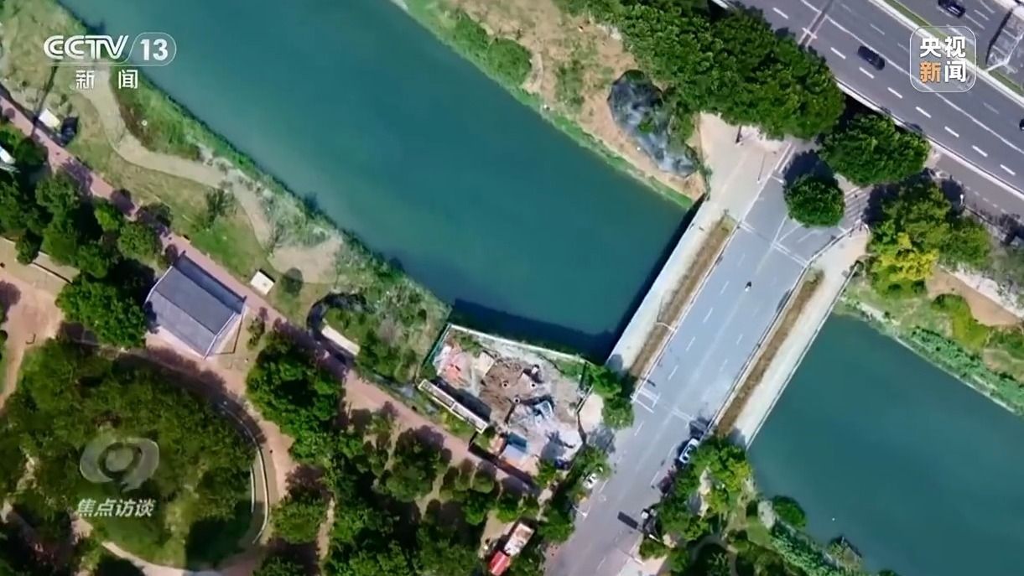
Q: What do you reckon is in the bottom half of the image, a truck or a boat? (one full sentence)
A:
Looking in the bottom half of the image, you will find a truck.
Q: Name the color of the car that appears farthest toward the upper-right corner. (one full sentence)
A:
The car that appears farthest toward the upper-right corner is black.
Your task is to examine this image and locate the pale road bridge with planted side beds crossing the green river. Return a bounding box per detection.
[609,199,860,447]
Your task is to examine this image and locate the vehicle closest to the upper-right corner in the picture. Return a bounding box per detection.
[934,0,967,21]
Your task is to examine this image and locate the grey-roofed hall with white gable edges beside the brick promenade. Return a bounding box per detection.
[144,250,253,359]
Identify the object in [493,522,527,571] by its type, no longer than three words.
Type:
truck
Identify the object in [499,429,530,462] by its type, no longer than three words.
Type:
shed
